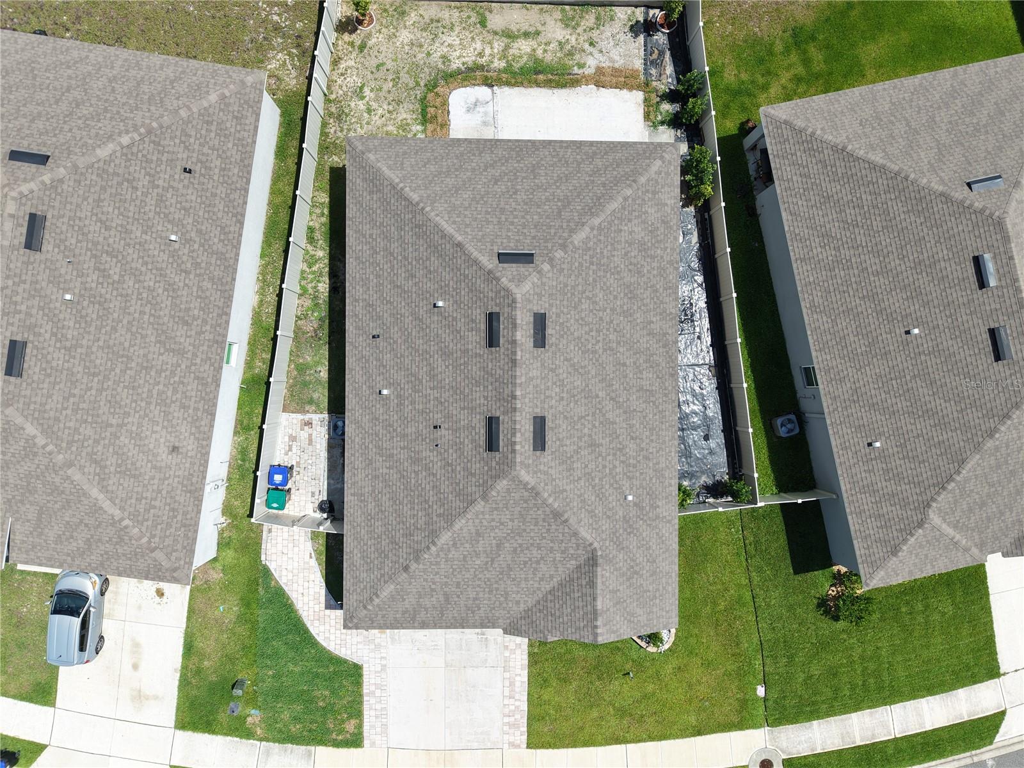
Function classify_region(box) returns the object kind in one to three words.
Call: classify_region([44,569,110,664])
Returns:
car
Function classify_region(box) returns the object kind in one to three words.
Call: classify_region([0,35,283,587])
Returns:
house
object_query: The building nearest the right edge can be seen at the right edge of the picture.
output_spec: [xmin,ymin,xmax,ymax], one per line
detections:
[744,54,1024,590]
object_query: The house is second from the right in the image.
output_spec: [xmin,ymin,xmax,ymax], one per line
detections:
[341,136,682,646]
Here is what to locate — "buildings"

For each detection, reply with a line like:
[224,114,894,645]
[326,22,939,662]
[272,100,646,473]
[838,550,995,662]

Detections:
[341,136,682,646]
[0,35,283,587]
[744,54,1024,590]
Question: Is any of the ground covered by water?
No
